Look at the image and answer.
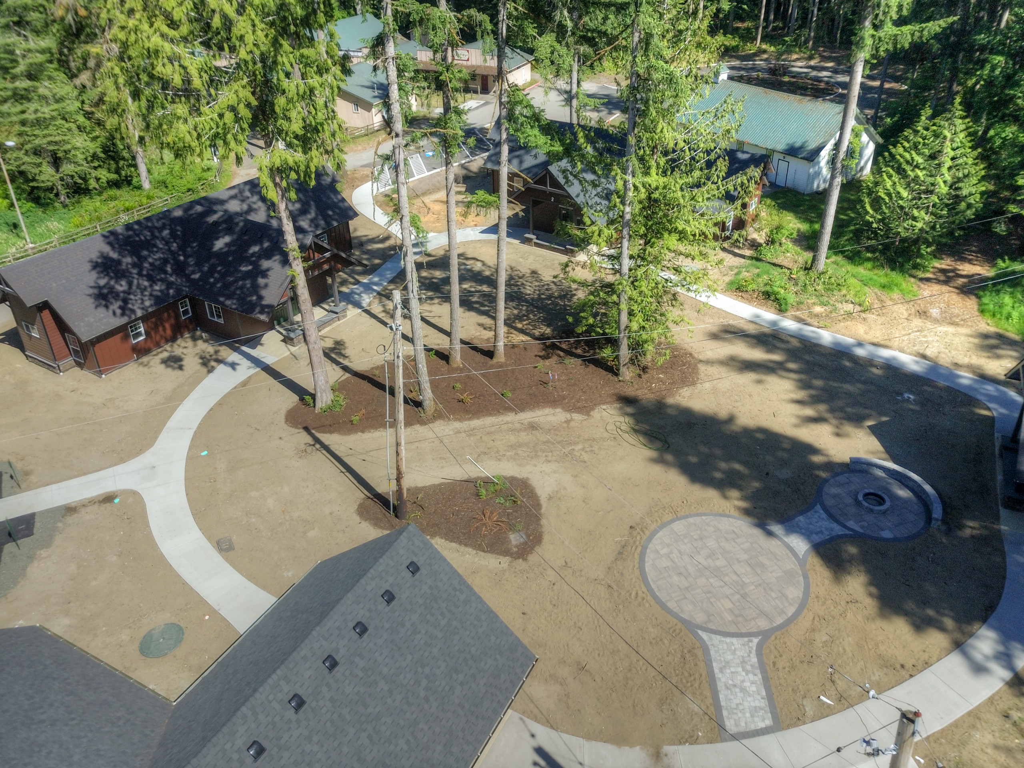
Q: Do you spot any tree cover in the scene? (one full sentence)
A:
Yes, the picture does contain tree cover.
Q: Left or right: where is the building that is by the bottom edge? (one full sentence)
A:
You can find the building that is by the bottom edge on the left side of the picture.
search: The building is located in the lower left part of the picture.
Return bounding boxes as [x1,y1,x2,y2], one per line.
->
[0,528,537,768]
